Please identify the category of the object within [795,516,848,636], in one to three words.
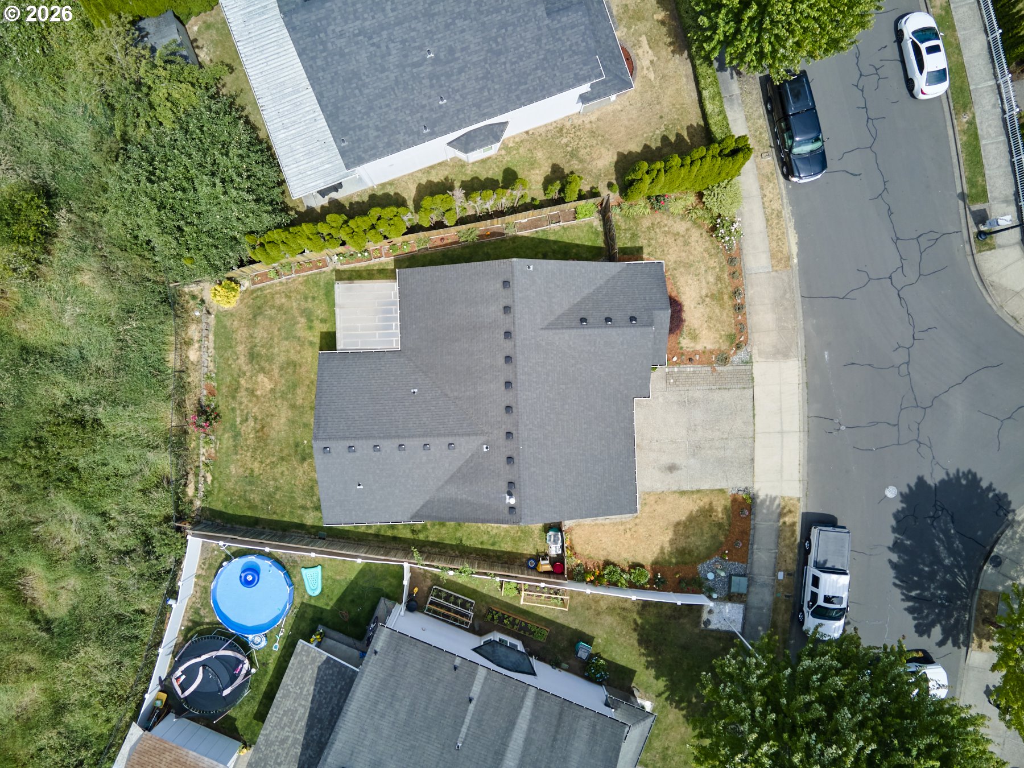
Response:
truck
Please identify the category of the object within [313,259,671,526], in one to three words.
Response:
house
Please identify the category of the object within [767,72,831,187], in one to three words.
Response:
truck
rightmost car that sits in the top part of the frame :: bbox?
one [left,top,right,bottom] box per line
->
[894,13,948,102]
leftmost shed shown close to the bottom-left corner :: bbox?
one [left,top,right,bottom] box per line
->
[111,713,241,768]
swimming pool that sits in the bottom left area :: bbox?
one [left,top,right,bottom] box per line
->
[204,548,296,638]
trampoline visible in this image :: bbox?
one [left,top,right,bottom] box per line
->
[160,633,254,724]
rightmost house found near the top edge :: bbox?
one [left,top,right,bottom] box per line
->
[279,0,635,193]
